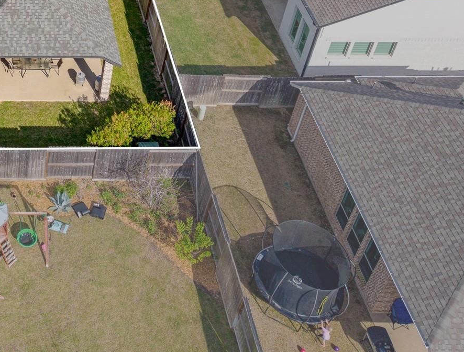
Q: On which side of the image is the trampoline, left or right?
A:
right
